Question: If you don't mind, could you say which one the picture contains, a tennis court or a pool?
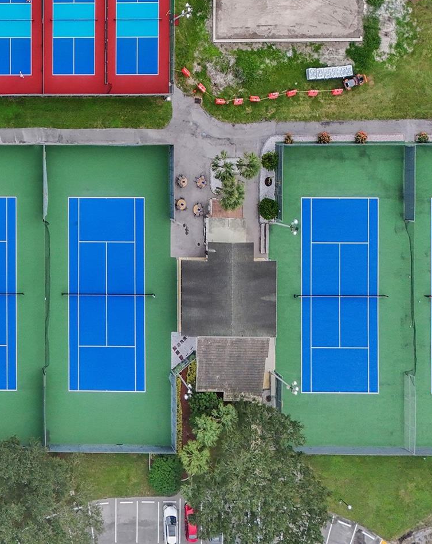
tennis court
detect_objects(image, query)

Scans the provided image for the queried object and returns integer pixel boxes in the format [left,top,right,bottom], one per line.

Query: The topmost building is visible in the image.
[175,243,277,339]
